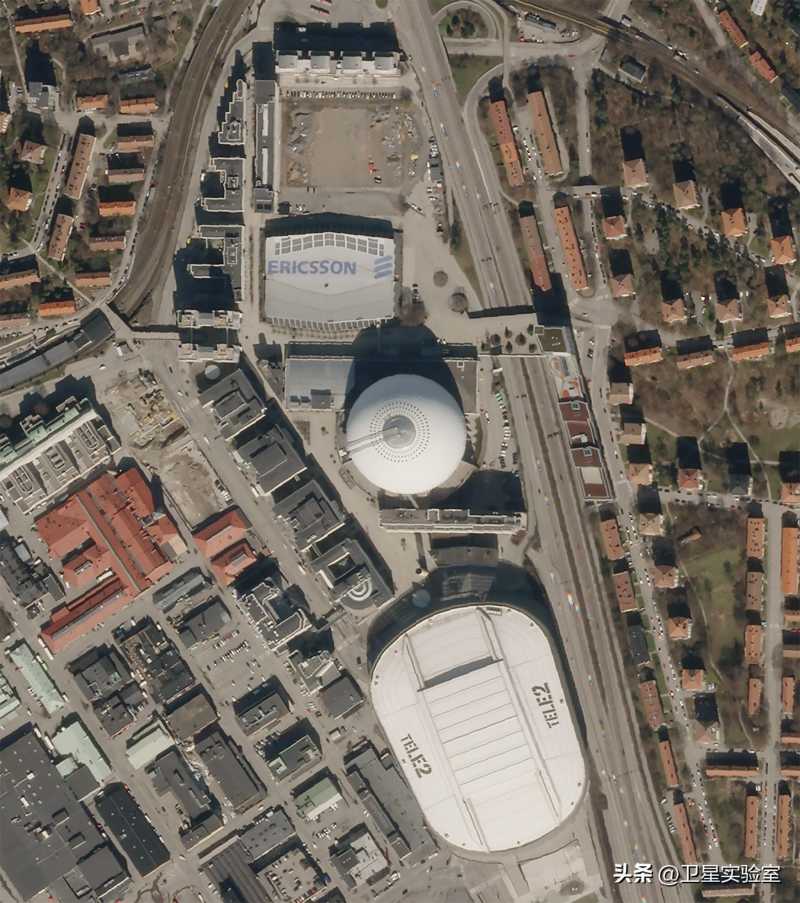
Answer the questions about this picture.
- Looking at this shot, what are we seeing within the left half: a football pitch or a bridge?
bridge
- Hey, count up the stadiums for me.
2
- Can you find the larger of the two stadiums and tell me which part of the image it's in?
bottom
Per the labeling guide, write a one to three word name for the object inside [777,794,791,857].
building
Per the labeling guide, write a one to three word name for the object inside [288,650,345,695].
building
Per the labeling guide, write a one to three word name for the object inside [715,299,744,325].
house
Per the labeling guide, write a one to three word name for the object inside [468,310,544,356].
bridge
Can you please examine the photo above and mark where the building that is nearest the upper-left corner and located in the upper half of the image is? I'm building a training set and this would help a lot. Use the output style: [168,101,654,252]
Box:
[16,15,73,33]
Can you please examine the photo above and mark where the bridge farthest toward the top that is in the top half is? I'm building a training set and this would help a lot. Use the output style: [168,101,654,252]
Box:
[565,183,624,198]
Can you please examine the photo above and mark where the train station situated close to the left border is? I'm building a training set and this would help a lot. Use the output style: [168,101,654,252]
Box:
[0,308,114,388]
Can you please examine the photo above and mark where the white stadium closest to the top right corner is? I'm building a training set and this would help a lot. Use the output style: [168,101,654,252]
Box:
[345,375,466,495]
